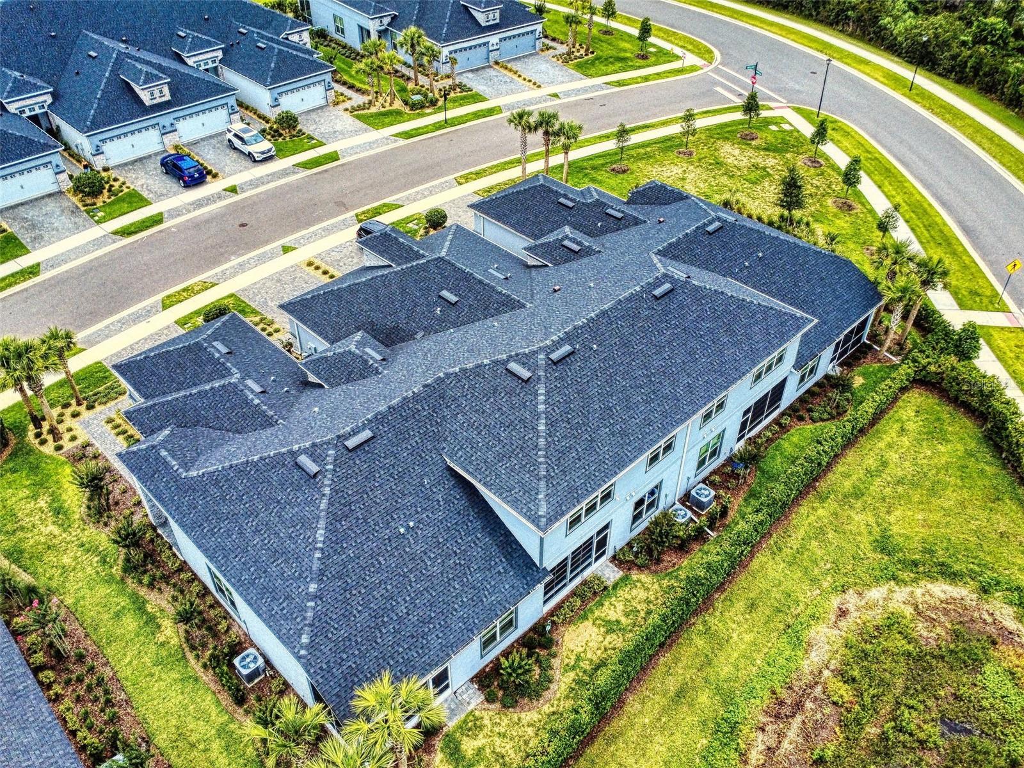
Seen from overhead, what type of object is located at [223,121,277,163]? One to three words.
car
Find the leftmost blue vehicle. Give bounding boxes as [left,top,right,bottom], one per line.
[156,153,208,187]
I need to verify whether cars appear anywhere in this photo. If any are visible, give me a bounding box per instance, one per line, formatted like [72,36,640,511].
[223,121,277,163]
[357,215,404,239]
[156,153,208,187]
